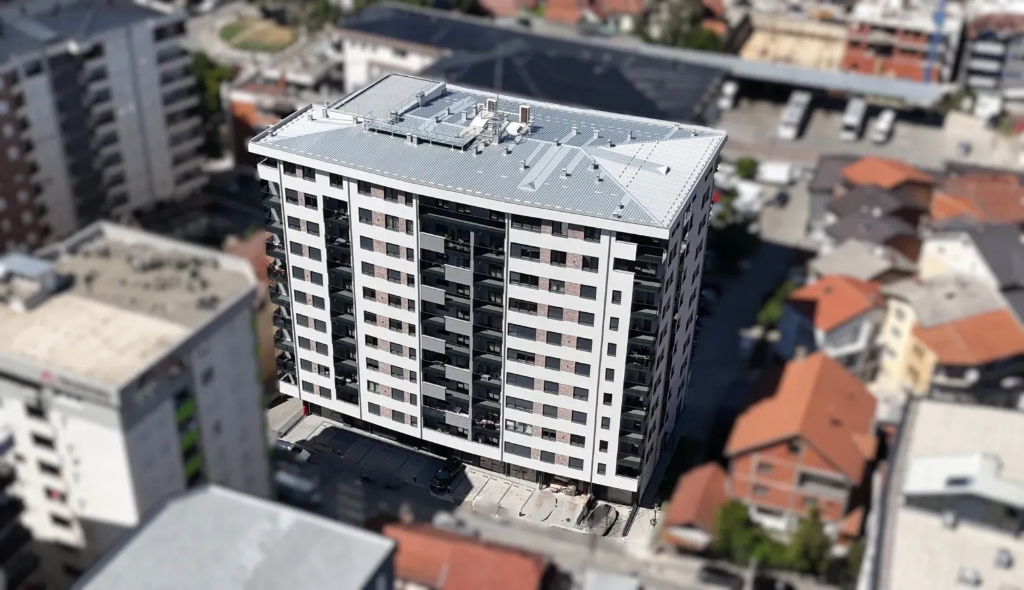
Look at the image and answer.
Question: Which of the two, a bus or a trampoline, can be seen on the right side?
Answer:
bus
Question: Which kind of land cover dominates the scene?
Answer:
buildings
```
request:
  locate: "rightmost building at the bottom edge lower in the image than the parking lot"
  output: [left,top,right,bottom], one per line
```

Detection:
[871,396,1024,590]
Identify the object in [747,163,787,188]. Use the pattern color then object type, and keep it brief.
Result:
white vehicle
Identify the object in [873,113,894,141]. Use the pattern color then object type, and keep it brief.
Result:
white vehicle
